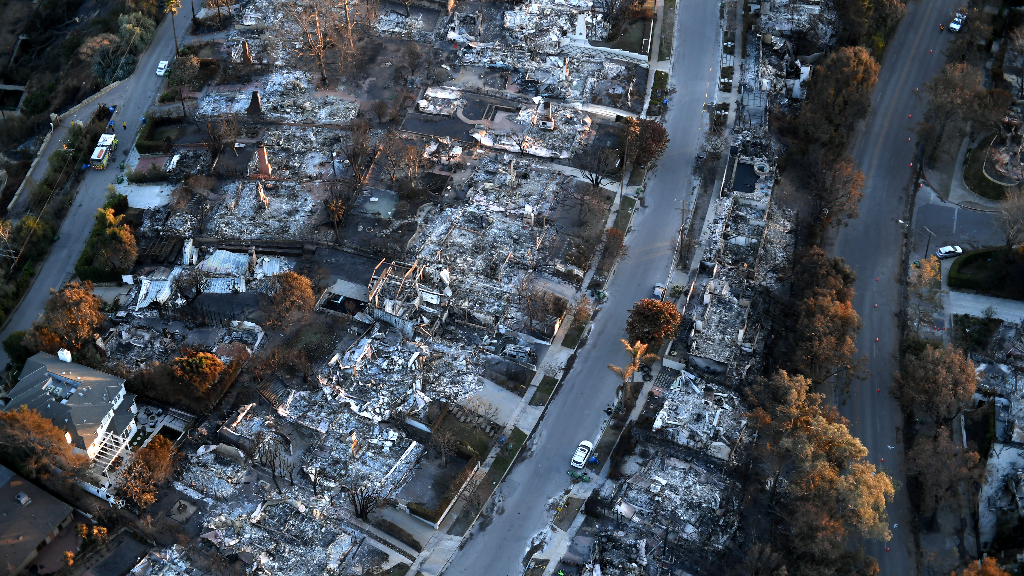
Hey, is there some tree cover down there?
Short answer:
Yes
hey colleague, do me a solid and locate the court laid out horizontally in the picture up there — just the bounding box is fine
[402,112,474,141]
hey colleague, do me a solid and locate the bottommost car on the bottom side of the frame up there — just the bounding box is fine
[572,442,591,468]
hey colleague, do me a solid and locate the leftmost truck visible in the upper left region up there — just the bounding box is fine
[90,131,116,172]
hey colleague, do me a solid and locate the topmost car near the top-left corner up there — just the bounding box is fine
[156,60,169,75]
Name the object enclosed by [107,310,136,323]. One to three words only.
vehicle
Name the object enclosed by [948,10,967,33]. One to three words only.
vehicle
